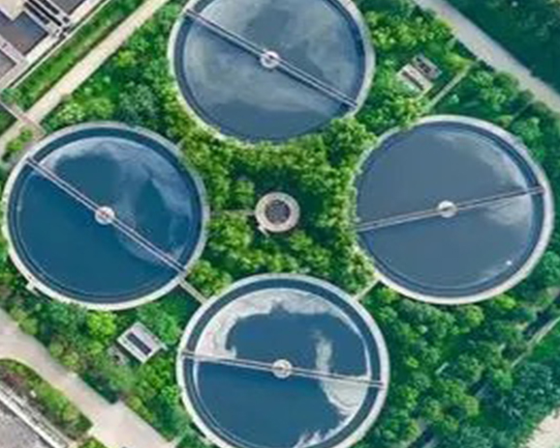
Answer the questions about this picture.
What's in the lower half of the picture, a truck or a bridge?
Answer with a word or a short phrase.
bridge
